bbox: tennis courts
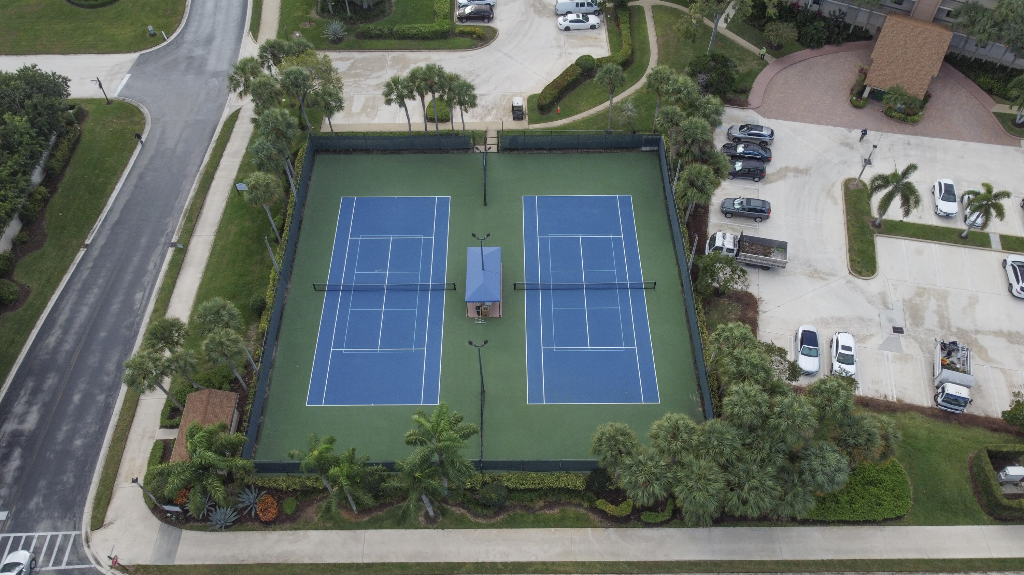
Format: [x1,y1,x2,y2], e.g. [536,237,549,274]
[483,151,707,476]
[251,152,487,477]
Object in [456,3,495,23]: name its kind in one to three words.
car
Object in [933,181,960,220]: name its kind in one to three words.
car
